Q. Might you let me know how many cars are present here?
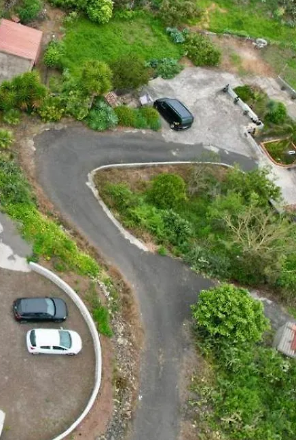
3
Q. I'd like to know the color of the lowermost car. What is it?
white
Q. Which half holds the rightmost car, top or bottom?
top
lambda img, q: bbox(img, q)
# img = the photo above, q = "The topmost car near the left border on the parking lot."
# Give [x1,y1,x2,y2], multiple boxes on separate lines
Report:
[12,295,69,324]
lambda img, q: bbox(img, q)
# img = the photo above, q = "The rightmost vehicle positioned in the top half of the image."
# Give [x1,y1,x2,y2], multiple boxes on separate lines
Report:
[152,96,199,130]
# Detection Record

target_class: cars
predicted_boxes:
[12,295,69,324]
[24,329,82,358]
[152,96,199,130]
